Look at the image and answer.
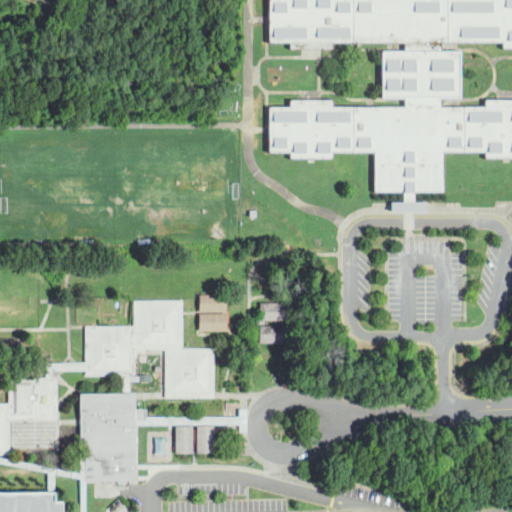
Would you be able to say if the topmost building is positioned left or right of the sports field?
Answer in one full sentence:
The sports field has the topmost building on its right side.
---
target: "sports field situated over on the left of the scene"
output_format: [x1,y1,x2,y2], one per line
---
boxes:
[0,130,238,241]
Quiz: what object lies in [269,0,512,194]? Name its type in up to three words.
building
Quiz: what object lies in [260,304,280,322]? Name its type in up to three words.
house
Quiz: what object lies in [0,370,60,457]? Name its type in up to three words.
building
